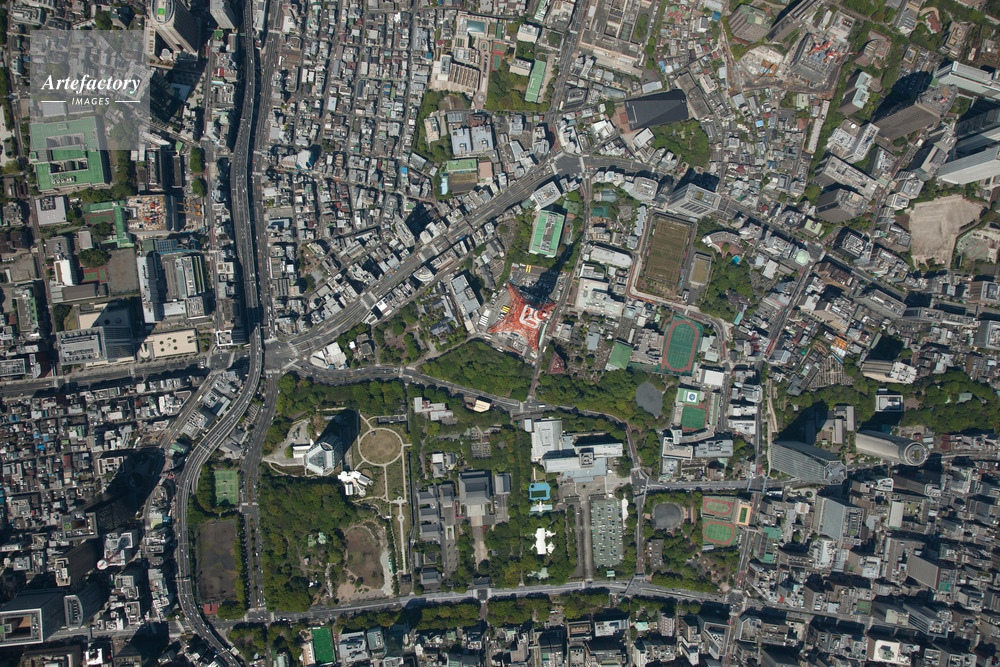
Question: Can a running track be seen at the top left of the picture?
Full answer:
No, there is no running track at the top left of the picture.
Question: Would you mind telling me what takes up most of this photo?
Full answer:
The bulk of the photo consists of buildings.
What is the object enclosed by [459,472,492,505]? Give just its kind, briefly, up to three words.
building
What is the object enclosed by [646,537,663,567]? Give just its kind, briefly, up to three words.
house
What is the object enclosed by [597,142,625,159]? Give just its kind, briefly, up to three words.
building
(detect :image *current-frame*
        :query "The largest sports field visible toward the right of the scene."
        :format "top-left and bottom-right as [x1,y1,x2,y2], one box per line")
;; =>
[641,213,694,289]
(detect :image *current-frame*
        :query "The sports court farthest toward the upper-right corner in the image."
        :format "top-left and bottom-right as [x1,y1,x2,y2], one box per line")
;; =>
[957,229,1000,262]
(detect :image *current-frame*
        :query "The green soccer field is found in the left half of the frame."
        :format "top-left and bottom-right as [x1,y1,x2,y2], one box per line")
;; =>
[312,627,334,665]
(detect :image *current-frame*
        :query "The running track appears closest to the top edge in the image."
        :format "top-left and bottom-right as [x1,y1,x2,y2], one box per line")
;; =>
[661,314,703,375]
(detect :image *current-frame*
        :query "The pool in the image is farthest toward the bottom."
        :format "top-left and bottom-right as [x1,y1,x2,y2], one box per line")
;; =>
[529,483,550,500]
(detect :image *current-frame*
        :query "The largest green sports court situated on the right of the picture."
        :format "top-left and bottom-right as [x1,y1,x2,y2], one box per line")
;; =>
[682,399,709,431]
